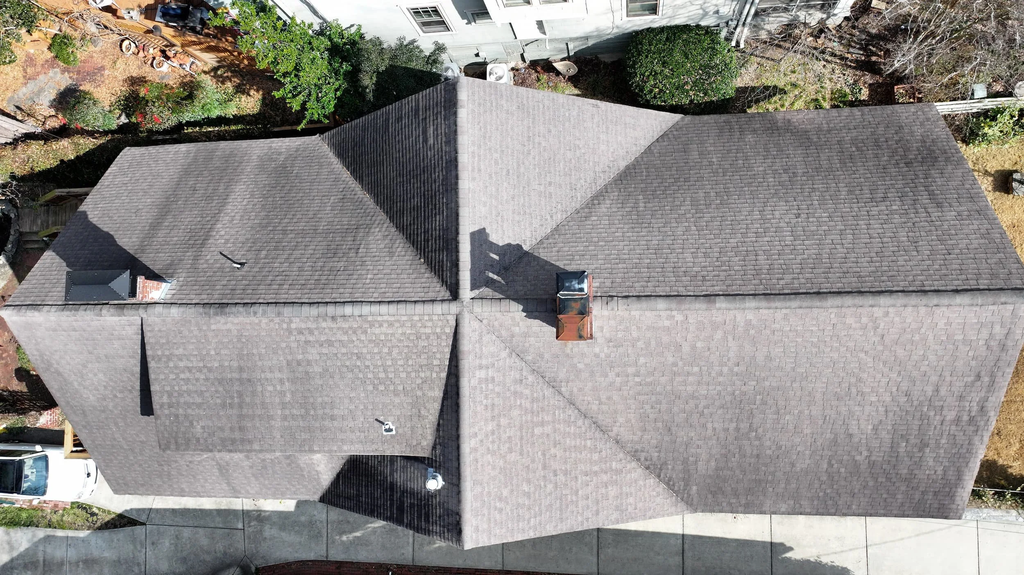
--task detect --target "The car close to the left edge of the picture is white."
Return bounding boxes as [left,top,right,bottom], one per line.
[0,440,104,509]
